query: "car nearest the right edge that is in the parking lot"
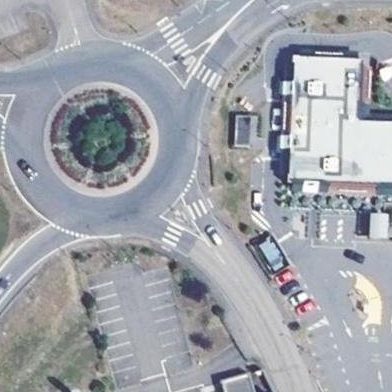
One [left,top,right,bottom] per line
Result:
[344,248,366,264]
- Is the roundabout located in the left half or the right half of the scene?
left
